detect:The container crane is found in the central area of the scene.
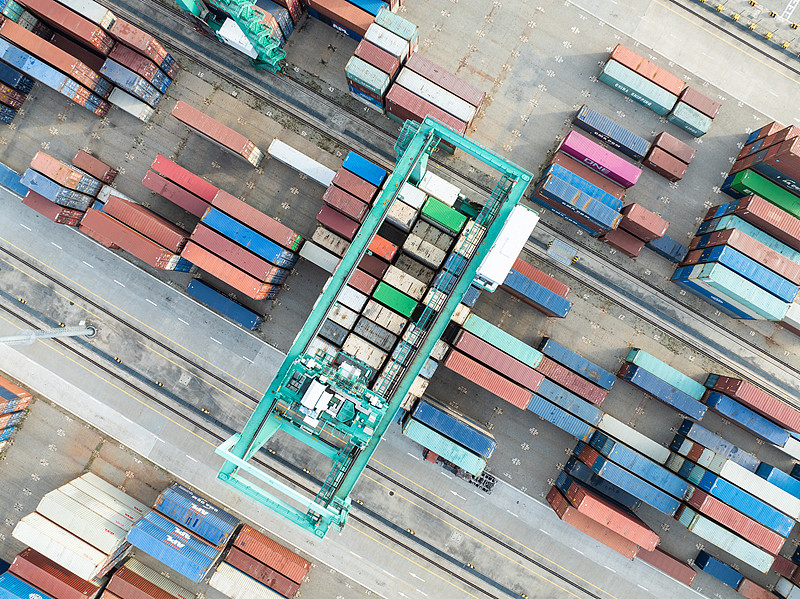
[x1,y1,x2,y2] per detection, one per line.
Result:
[211,111,550,546]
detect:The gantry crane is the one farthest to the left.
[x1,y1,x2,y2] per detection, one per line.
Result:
[173,0,291,78]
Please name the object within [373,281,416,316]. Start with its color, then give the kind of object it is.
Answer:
green shipping container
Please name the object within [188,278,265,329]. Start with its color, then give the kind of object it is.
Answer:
blue shipping container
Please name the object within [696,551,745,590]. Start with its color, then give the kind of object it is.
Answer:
blue shipping container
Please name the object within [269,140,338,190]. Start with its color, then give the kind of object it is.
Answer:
white shipping container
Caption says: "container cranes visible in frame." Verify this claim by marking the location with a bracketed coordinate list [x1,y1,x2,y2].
[211,111,550,546]
[173,0,291,78]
